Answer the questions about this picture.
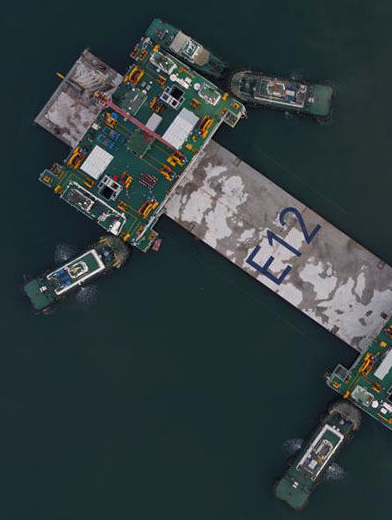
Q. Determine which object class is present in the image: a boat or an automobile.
boat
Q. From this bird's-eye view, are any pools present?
No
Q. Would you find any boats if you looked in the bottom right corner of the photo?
Yes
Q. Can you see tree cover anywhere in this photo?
No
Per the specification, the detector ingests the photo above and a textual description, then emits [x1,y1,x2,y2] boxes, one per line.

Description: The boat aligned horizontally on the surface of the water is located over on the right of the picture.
[228,66,336,120]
